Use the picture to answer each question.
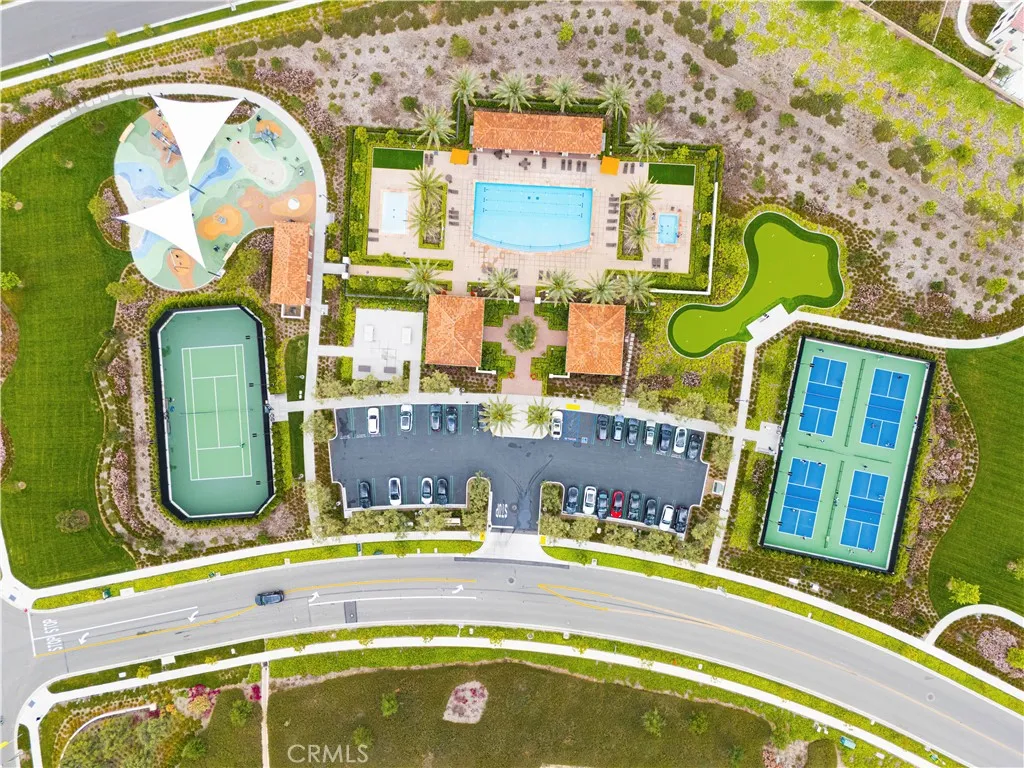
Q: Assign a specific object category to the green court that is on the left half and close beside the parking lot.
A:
tennis court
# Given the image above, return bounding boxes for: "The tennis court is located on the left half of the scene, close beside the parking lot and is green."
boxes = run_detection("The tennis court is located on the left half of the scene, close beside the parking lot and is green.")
[157,308,269,518]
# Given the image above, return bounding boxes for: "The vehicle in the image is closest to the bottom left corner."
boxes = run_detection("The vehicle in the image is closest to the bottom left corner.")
[255,590,284,605]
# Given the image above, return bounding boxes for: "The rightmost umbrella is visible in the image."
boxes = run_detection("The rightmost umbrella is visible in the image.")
[600,156,620,176]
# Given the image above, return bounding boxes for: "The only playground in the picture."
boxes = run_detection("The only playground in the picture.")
[112,108,318,292]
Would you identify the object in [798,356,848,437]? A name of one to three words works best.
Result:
sports court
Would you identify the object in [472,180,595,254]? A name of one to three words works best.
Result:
swimming pool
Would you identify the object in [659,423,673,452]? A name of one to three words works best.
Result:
car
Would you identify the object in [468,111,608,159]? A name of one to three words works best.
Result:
building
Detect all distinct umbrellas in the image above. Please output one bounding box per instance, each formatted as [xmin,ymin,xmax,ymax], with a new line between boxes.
[450,147,469,166]
[600,156,620,176]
